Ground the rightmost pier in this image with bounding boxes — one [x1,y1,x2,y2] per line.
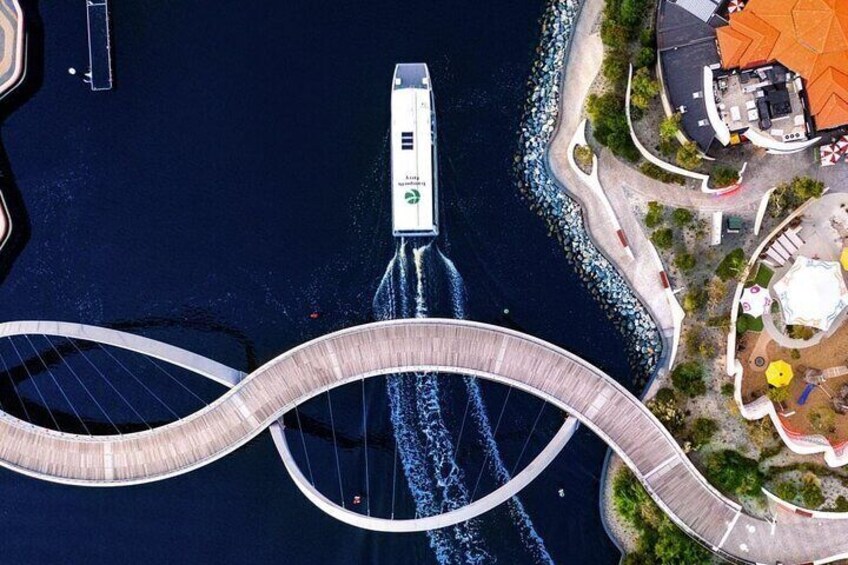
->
[84,0,113,91]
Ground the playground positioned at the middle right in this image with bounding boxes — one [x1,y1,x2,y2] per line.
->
[735,209,848,457]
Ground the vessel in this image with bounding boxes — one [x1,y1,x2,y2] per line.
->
[389,63,438,236]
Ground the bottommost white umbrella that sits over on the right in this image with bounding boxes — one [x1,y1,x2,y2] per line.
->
[740,286,770,316]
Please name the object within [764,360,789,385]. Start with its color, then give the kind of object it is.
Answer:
yellow umbrella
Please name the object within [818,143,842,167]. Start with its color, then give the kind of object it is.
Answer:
white umbrella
